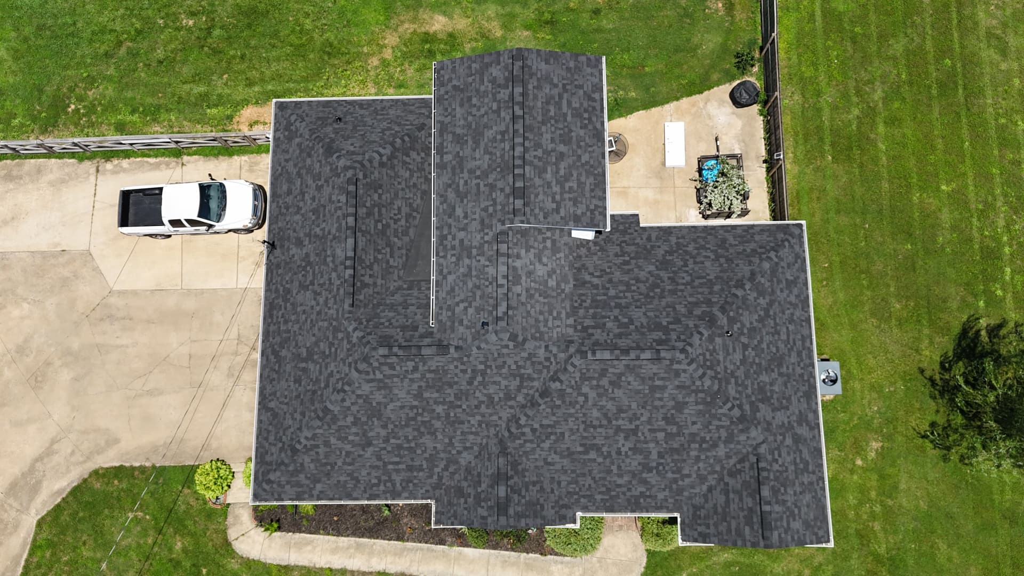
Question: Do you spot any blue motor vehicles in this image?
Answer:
No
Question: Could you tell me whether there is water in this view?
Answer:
No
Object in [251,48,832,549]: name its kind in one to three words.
house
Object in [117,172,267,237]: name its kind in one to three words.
truck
